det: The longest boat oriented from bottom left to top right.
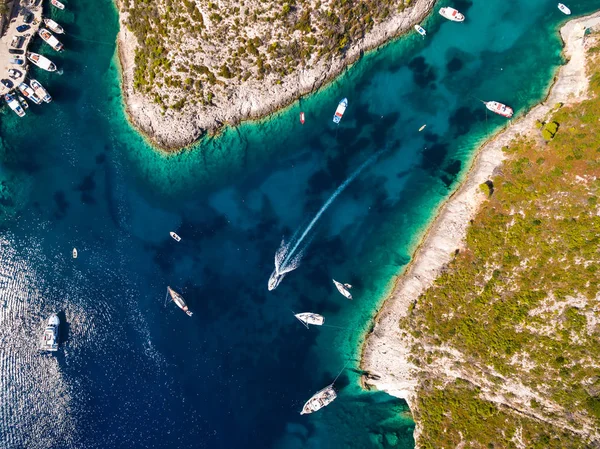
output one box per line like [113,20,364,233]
[299,357,353,417]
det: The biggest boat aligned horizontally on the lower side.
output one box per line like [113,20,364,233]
[286,305,362,331]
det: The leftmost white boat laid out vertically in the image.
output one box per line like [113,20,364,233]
[36,314,57,353]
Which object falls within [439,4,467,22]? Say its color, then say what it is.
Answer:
white boat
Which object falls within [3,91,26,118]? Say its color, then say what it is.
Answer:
white boat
